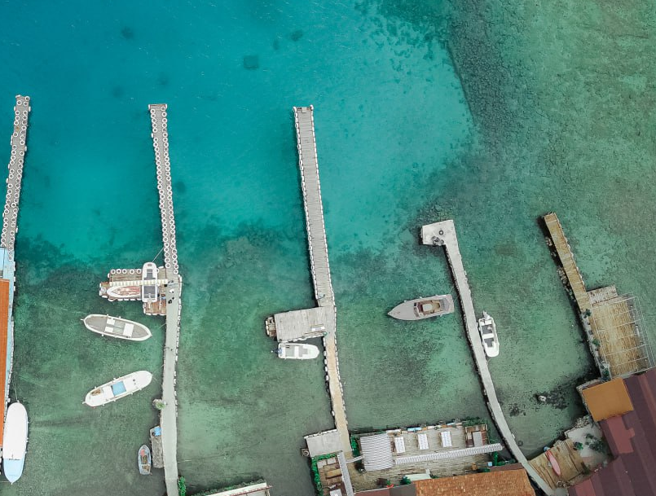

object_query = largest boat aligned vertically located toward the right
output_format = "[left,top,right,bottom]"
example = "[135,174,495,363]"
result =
[478,314,500,357]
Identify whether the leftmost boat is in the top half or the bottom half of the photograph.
bottom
